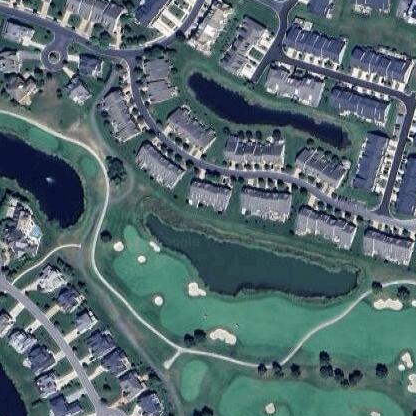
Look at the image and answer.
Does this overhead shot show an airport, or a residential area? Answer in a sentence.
The picture captures a residential area.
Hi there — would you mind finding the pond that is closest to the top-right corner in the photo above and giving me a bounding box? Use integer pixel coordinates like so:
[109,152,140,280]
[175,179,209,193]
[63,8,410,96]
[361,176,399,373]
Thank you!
[187,71,353,147]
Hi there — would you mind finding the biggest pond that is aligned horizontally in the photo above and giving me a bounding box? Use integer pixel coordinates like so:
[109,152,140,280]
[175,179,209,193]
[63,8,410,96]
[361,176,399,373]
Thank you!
[146,216,360,299]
